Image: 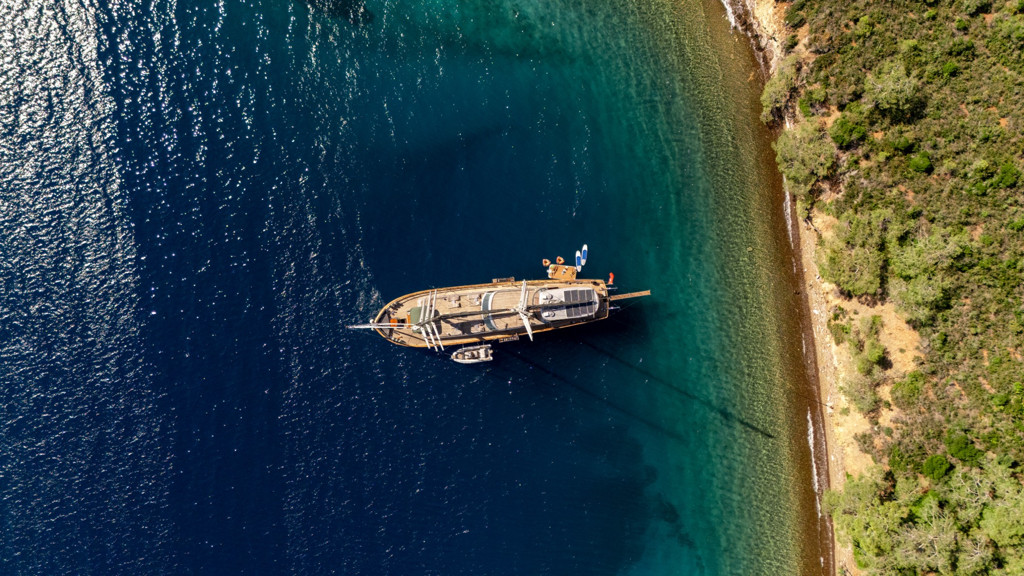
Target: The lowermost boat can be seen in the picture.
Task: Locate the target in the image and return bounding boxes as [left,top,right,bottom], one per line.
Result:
[452,338,499,364]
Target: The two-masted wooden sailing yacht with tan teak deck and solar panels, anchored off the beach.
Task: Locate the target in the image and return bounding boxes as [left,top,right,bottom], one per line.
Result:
[350,277,651,351]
